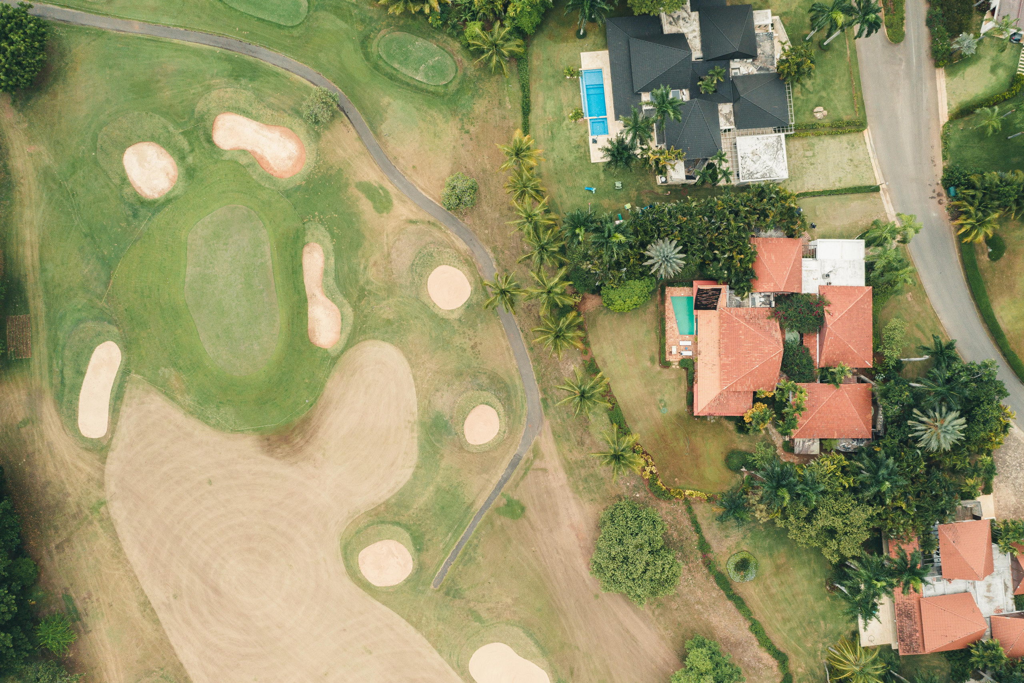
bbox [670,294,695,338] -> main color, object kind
green swimming pool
